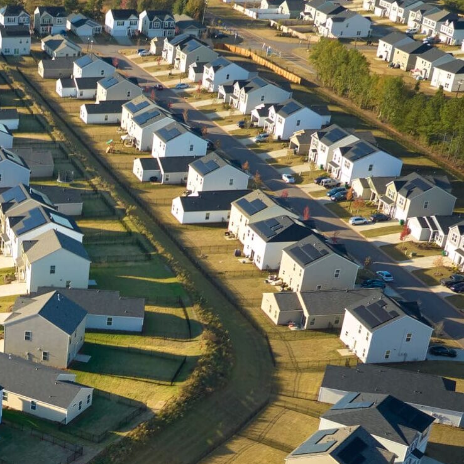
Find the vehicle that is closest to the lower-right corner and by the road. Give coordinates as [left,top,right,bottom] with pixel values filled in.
[428,343,458,355]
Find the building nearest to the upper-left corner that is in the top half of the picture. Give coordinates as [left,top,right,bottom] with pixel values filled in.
[0,4,31,27]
